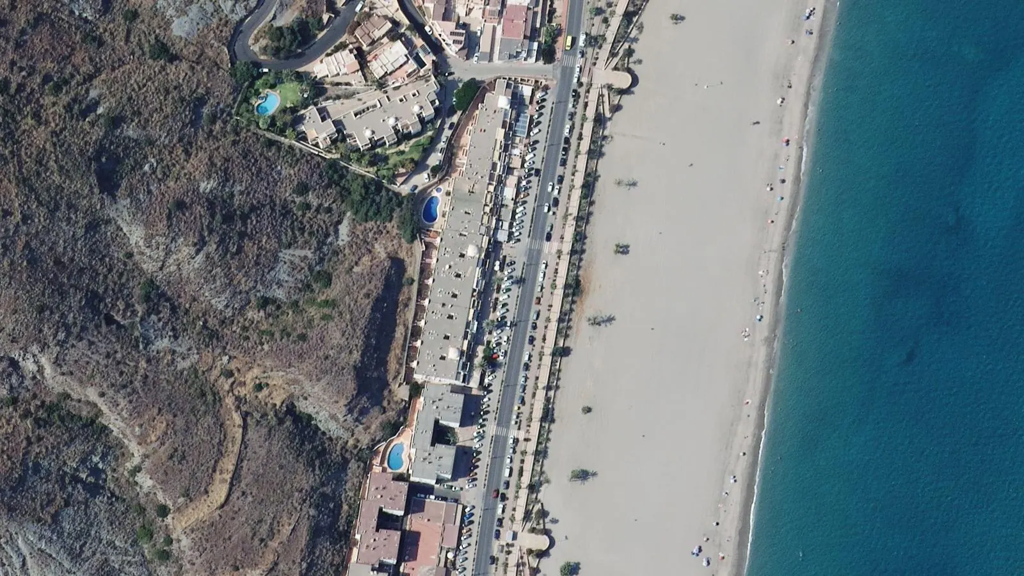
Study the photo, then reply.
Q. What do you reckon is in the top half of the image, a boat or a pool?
pool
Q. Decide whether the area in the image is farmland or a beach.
beach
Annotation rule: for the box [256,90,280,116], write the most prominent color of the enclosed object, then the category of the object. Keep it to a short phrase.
blue swimming pool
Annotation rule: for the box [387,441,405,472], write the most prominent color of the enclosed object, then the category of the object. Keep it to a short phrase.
blue swimming pool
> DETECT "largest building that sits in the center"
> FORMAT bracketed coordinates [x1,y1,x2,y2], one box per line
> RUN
[407,174,498,387]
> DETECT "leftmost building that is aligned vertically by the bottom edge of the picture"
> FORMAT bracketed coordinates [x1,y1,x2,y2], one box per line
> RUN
[356,473,410,567]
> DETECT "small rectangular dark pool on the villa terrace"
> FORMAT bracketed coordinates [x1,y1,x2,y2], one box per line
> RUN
[412,51,429,71]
